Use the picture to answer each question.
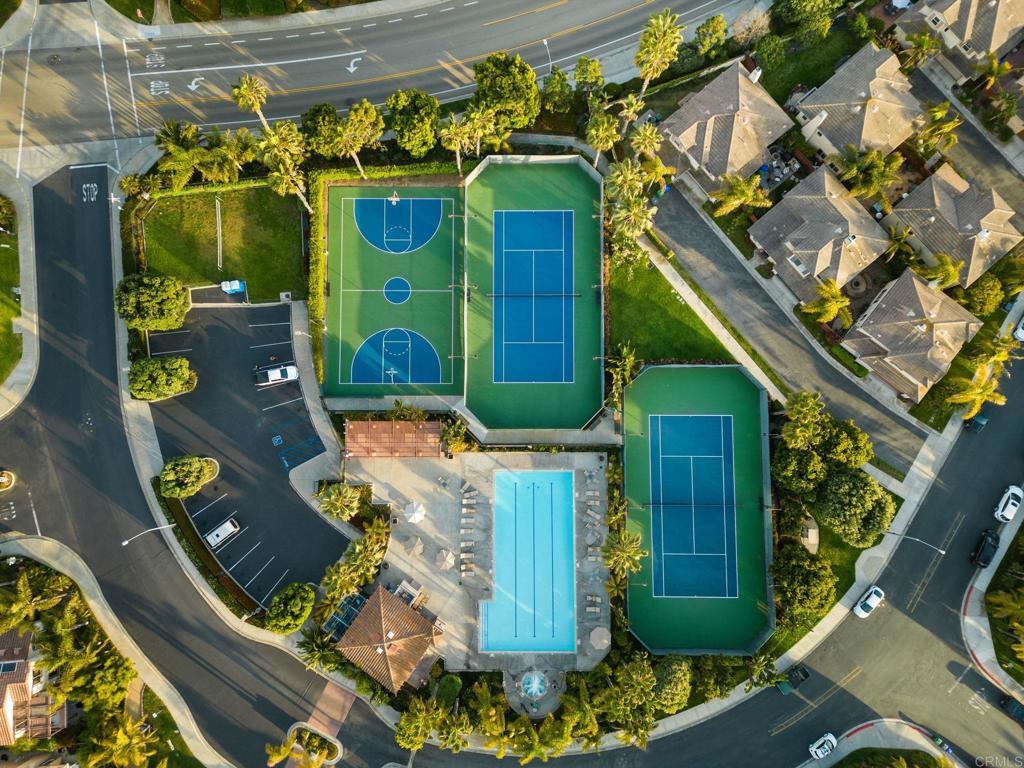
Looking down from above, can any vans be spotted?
Yes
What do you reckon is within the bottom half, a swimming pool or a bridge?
swimming pool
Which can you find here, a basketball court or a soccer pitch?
basketball court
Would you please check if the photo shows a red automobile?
No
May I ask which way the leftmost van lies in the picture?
at an angle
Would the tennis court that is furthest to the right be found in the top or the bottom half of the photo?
bottom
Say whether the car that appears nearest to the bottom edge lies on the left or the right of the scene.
right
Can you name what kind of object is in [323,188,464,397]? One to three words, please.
basketball court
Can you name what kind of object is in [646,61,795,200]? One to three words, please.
house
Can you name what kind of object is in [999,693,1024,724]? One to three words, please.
car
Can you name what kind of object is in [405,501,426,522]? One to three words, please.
umbrella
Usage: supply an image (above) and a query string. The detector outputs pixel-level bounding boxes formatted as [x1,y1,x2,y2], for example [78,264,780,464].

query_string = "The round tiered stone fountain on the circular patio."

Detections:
[847,274,867,293]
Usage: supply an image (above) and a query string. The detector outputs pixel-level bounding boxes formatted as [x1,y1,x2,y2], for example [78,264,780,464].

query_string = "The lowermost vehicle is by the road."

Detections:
[808,733,841,763]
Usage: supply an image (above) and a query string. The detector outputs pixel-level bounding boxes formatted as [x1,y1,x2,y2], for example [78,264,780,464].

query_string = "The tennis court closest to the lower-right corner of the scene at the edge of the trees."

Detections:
[622,365,776,656]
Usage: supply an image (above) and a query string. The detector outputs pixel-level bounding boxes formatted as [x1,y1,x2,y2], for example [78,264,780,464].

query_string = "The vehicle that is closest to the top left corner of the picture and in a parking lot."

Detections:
[251,365,296,387]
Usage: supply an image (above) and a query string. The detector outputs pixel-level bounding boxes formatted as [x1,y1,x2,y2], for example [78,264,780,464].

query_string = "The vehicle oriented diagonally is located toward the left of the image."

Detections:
[198,517,240,551]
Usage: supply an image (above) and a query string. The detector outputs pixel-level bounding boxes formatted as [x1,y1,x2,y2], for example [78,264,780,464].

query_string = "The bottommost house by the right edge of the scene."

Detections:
[837,267,984,401]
